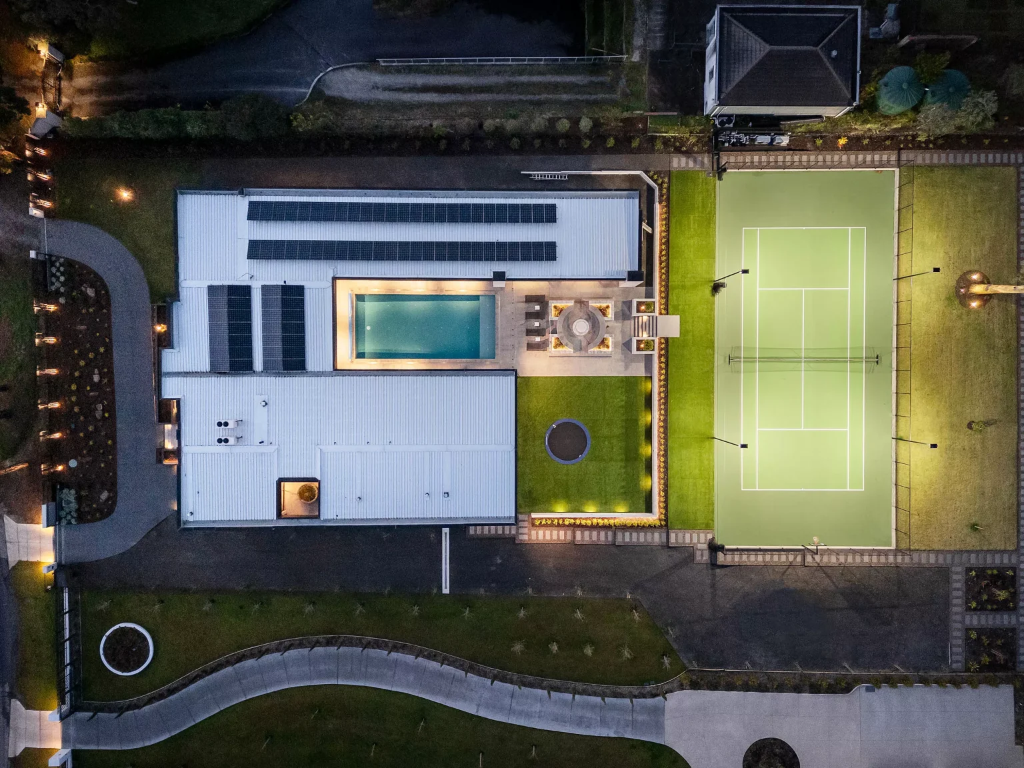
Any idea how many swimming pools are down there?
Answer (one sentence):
In total, 1 swimming pool can be seen.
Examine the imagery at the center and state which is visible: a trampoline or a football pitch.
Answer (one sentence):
There is a trampoline at the center.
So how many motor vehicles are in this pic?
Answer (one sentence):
The picture shows no motor vehicles.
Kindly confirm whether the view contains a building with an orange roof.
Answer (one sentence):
No, the frame has no building with an orange roof in it.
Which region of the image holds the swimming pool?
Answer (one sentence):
You can find the swimming pool in the center area of the picture.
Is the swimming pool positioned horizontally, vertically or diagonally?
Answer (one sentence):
In this picture, the swimming pool is oriented horizontally.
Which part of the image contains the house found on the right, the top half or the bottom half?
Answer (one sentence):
It is in the top half that the house found on the right appears.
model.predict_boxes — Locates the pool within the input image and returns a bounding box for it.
[351,290,499,364]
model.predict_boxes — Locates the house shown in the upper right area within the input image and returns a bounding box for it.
[706,0,863,127]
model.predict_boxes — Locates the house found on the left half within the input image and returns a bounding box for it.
[160,186,643,529]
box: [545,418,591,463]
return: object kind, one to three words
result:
trampoline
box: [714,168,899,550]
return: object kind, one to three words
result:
tennis court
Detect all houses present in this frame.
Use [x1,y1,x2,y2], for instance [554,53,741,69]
[160,186,643,529]
[706,0,863,127]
